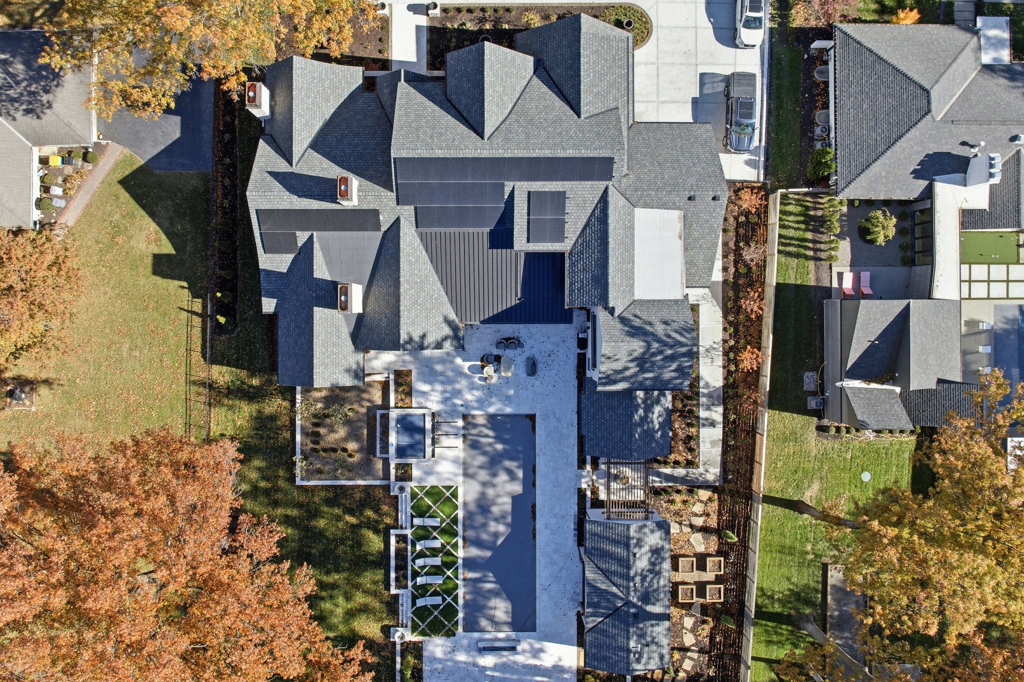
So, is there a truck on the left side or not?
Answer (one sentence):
No, there's no truck to be seen on the left side.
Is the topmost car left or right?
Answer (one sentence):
The topmost car is on the right side of the image.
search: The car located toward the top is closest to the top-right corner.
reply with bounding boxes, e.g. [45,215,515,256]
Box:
[736,0,771,50]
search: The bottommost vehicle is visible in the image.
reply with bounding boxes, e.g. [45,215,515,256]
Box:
[726,70,762,155]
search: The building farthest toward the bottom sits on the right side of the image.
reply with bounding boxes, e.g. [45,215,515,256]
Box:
[582,510,672,676]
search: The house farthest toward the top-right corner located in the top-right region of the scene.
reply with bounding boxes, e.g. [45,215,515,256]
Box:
[806,17,1024,302]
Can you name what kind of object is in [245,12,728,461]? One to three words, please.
house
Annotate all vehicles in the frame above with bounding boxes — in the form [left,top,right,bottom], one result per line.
[726,70,762,155]
[736,0,771,50]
